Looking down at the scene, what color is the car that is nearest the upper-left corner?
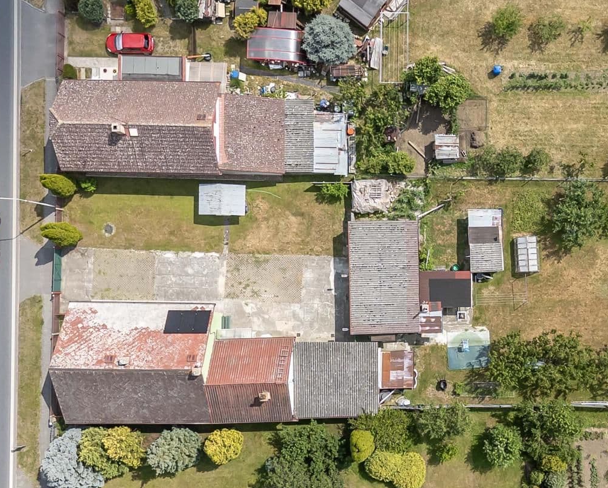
red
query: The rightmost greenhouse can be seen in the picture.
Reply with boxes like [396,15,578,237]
[513,237,540,273]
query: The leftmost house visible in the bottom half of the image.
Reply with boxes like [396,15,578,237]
[46,300,225,425]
